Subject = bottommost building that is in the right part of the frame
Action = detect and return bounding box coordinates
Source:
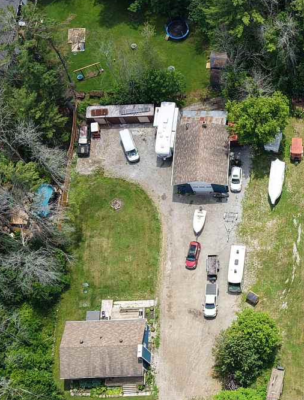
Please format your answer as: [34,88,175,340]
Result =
[173,126,229,193]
